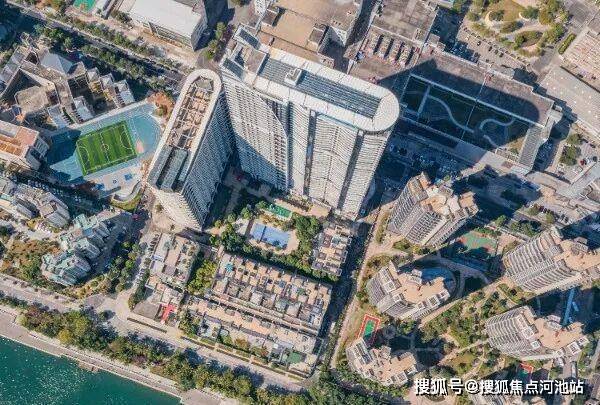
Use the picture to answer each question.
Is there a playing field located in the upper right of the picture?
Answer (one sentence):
No, no playing field is visible in the upper right of the picture.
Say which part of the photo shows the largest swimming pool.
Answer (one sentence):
The largest swimming pool sits in the center section of the image.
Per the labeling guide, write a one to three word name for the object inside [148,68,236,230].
building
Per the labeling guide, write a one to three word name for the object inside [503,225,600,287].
building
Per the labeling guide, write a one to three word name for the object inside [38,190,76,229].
house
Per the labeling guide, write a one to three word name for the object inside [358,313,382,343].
sports court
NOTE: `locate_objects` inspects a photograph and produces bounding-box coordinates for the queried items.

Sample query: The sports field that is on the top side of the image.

[47,104,164,186]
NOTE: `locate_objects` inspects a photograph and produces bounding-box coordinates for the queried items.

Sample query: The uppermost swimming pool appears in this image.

[236,214,300,251]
